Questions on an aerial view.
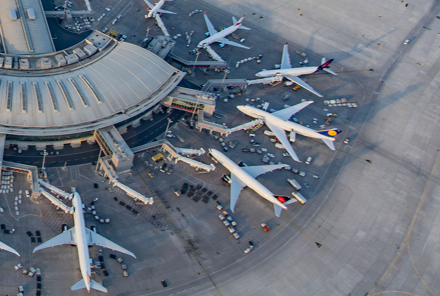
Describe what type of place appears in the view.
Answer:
airport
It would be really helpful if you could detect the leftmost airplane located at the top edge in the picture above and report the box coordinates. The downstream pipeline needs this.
[145,0,176,18]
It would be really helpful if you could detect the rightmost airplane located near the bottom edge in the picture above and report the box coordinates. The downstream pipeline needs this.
[32,190,131,286]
